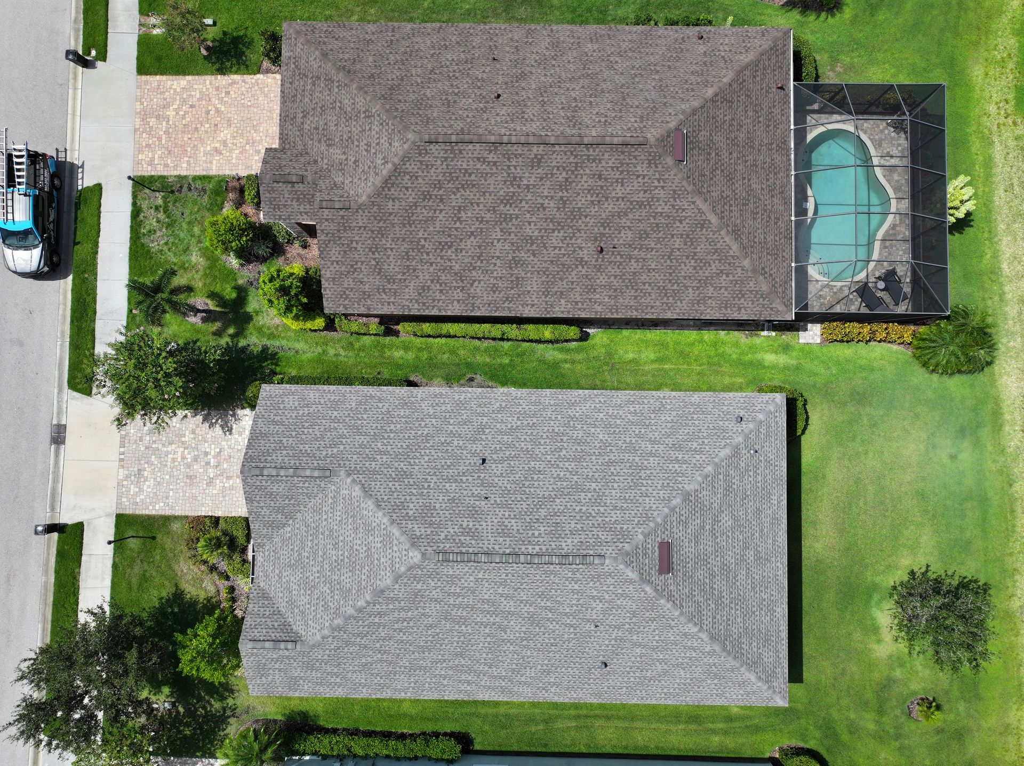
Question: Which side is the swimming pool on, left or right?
right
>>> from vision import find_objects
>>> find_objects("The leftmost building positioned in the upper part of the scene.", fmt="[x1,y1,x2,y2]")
[258,19,796,323]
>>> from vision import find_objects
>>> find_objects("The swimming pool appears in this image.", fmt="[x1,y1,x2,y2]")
[796,122,898,286]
